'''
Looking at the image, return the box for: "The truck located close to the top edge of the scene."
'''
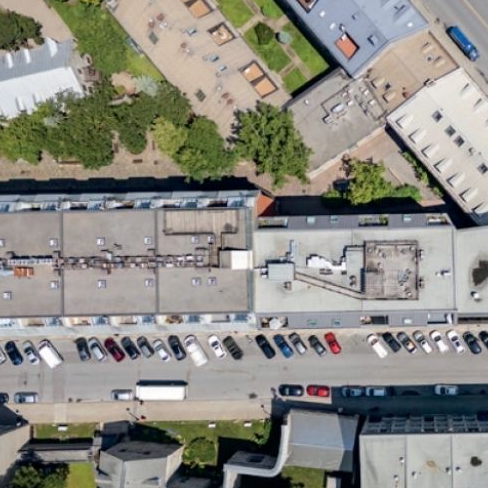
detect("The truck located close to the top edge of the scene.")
[445,23,480,62]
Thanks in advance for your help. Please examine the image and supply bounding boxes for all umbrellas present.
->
[277,30,291,43]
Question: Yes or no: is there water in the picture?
No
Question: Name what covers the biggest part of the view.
buildings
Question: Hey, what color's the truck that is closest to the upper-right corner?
blue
